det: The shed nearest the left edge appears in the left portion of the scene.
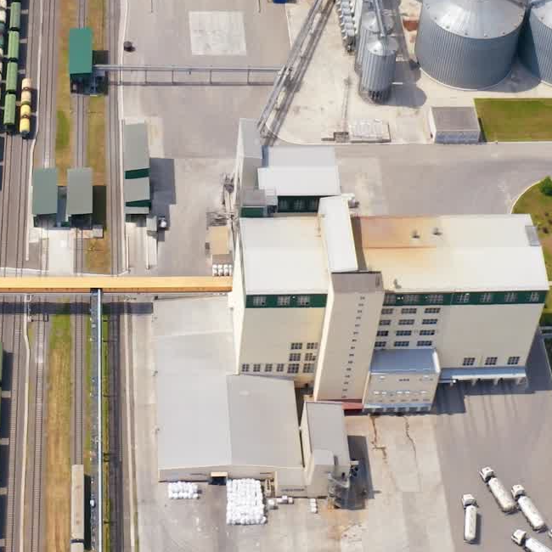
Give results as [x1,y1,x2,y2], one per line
[33,169,58,229]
